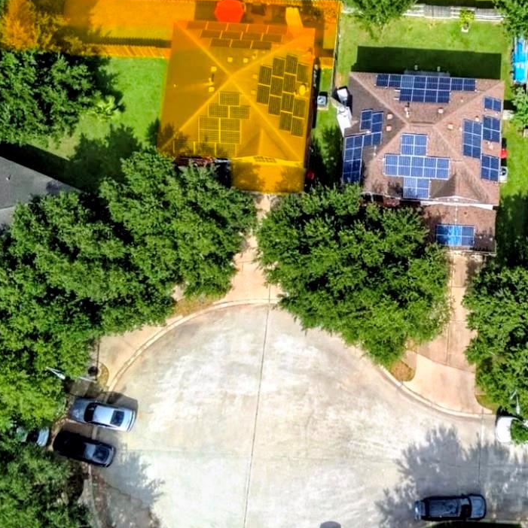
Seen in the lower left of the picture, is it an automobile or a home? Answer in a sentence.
The feature located in the lower left of the picture is an automobile.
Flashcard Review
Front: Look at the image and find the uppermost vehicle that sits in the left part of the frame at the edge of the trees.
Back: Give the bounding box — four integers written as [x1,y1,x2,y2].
[67,396,136,430]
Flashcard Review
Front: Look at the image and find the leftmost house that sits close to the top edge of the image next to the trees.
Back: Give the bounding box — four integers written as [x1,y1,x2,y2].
[156,8,319,198]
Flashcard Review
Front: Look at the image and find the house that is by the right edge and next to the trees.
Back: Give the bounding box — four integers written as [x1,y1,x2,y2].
[340,66,506,254]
